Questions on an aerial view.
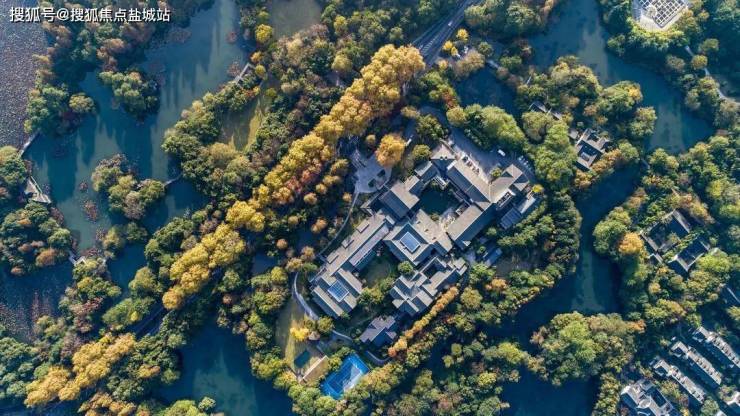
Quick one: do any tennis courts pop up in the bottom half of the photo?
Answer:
Yes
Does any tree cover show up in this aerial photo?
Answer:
Yes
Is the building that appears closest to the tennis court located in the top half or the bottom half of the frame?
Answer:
bottom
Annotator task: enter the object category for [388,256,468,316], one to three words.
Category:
house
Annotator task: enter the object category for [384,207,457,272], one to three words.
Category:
building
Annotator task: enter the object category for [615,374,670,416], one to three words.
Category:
house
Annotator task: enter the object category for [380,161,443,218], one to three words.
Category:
building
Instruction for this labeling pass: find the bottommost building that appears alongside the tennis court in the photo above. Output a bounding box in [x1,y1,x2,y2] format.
[301,354,331,384]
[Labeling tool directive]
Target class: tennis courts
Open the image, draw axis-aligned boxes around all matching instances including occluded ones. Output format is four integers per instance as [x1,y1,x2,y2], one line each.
[322,353,369,402]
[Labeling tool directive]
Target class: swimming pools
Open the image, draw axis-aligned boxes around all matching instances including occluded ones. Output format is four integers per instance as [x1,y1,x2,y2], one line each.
[293,350,314,368]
